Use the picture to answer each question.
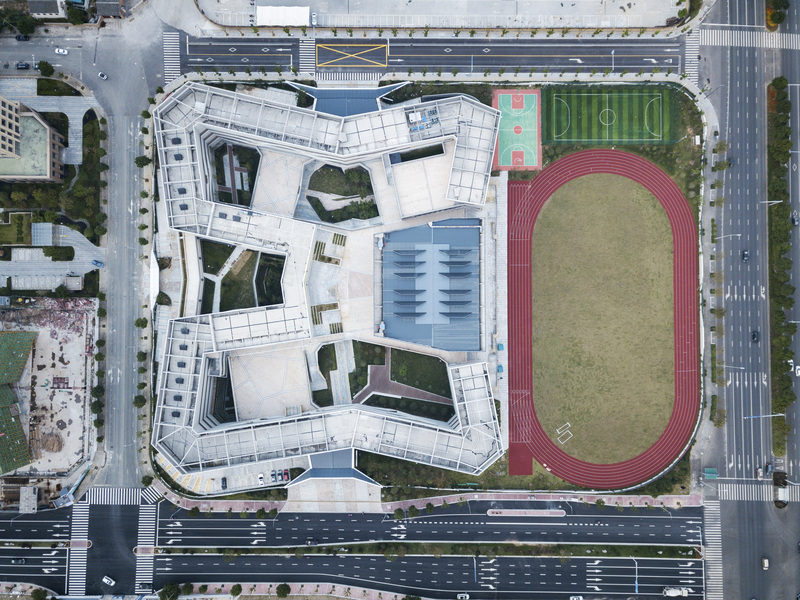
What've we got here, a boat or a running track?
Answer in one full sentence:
It is a running track that can be seen here.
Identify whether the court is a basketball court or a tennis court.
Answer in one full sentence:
The court is a basketball court.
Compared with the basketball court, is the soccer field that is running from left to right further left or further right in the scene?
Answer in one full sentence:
Relative to the basketball court, the soccer field that is running from left to right lies to the right.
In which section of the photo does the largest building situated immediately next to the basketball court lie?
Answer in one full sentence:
The largest building situated immediately next to the basketball court is located in the center region of the scene.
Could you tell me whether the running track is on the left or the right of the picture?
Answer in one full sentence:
The running track appears in the right half of the scene.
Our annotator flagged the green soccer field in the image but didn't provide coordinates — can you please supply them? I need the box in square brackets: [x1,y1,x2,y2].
[541,86,677,145]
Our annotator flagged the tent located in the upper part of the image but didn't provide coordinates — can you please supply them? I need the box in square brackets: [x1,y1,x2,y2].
[256,6,312,30]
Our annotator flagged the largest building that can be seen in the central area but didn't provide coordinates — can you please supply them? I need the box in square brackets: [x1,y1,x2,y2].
[152,80,505,488]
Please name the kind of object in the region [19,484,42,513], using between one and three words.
building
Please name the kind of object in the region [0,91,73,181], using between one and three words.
building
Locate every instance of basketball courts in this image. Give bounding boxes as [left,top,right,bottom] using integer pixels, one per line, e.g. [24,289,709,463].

[493,89,542,170]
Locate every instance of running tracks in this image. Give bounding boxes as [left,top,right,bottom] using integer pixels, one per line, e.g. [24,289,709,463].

[507,149,699,490]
